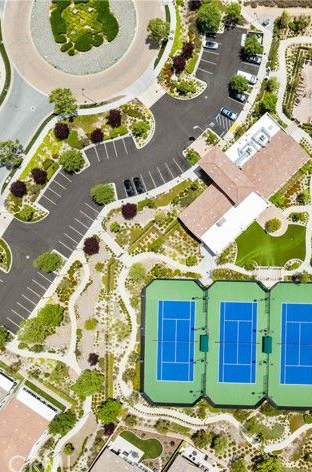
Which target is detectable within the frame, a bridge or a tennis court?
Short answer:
tennis court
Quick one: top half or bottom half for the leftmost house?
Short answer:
bottom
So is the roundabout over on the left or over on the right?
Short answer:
left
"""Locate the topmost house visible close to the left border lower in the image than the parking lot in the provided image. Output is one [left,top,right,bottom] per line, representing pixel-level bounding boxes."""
[0,366,22,414]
